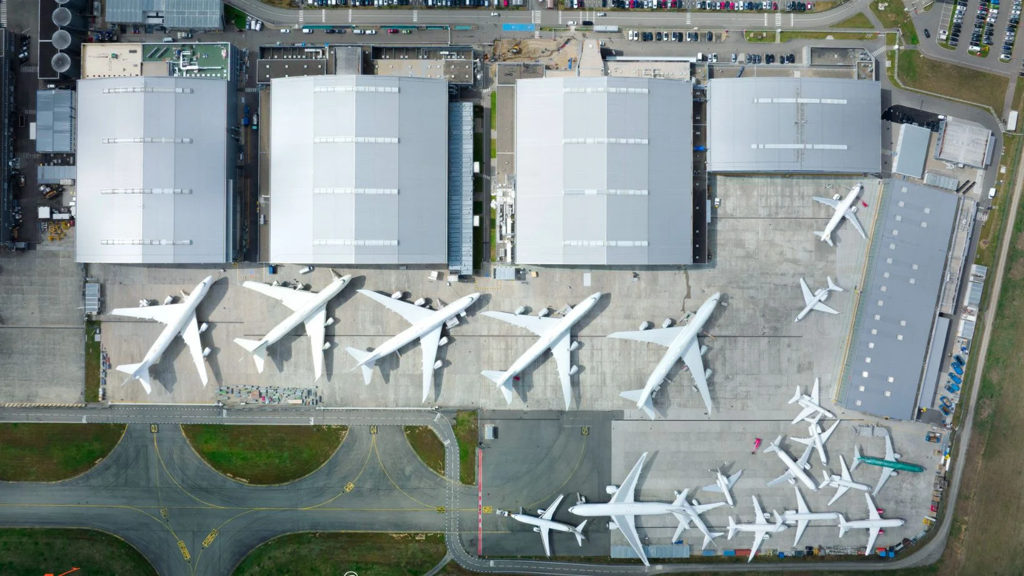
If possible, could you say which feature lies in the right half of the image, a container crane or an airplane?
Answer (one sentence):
The one visible in the right half of the image is an airplane.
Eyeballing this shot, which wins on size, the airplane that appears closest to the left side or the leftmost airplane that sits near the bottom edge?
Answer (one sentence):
The leftmost airplane that sits near the bottom edge is smaller than the airplane that appears closest to the left side.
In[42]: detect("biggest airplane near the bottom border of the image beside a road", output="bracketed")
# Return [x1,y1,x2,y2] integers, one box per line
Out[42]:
[568,455,692,569]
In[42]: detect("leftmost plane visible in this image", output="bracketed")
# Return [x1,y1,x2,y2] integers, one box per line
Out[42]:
[105,276,212,394]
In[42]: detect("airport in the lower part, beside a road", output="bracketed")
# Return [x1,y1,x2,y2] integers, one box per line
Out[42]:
[0,174,954,576]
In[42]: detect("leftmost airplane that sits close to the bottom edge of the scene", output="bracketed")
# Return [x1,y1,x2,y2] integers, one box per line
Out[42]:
[511,498,585,563]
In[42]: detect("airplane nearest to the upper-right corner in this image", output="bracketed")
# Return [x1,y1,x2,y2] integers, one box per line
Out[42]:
[812,183,867,247]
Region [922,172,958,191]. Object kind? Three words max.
shed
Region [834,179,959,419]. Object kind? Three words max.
hangar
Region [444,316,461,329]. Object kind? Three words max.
vehicle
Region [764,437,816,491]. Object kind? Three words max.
airplane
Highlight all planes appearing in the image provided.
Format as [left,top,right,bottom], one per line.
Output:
[838,494,905,557]
[790,379,836,424]
[511,498,585,563]
[703,468,741,508]
[795,418,842,465]
[605,292,720,423]
[794,277,841,322]
[568,455,692,569]
[812,183,867,247]
[478,292,601,412]
[232,274,351,378]
[824,459,870,506]
[764,437,816,491]
[342,289,480,405]
[776,490,841,546]
[728,497,788,562]
[673,490,725,546]
[105,276,212,394]
[853,431,924,496]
